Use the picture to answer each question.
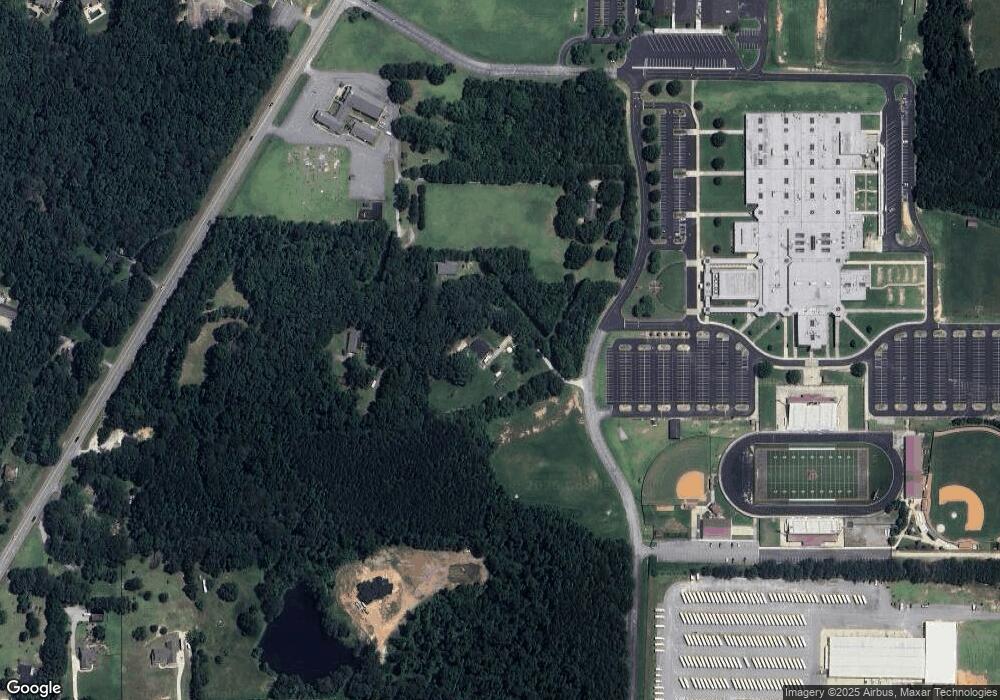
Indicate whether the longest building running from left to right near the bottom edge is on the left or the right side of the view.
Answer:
right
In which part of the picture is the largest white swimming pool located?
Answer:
top left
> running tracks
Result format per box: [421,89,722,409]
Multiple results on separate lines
[719,431,904,517]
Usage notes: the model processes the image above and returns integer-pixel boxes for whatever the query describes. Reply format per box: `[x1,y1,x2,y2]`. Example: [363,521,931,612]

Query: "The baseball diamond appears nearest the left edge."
[642,436,710,506]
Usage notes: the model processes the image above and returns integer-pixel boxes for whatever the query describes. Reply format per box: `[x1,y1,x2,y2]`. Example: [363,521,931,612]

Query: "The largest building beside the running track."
[704,112,879,350]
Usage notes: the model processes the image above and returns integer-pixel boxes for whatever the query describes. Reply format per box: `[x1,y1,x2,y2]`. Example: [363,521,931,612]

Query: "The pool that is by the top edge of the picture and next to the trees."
[84,3,105,23]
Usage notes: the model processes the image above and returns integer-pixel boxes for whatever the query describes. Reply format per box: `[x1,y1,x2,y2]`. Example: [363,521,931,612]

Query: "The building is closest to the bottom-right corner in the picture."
[924,622,957,686]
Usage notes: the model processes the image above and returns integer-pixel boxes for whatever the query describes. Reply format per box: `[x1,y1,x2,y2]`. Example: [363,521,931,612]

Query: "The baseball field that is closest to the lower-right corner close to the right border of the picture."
[927,425,1000,552]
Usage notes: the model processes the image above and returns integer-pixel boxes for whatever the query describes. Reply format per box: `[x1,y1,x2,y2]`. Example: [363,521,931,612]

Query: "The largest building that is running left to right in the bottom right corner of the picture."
[828,637,925,679]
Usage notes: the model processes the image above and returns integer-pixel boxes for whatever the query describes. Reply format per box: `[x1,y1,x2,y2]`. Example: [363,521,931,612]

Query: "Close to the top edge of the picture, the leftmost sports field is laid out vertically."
[784,0,814,62]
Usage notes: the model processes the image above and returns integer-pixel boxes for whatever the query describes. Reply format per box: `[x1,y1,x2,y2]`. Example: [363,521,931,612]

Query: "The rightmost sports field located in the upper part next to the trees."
[826,0,902,64]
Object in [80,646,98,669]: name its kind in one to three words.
house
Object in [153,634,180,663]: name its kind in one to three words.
house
